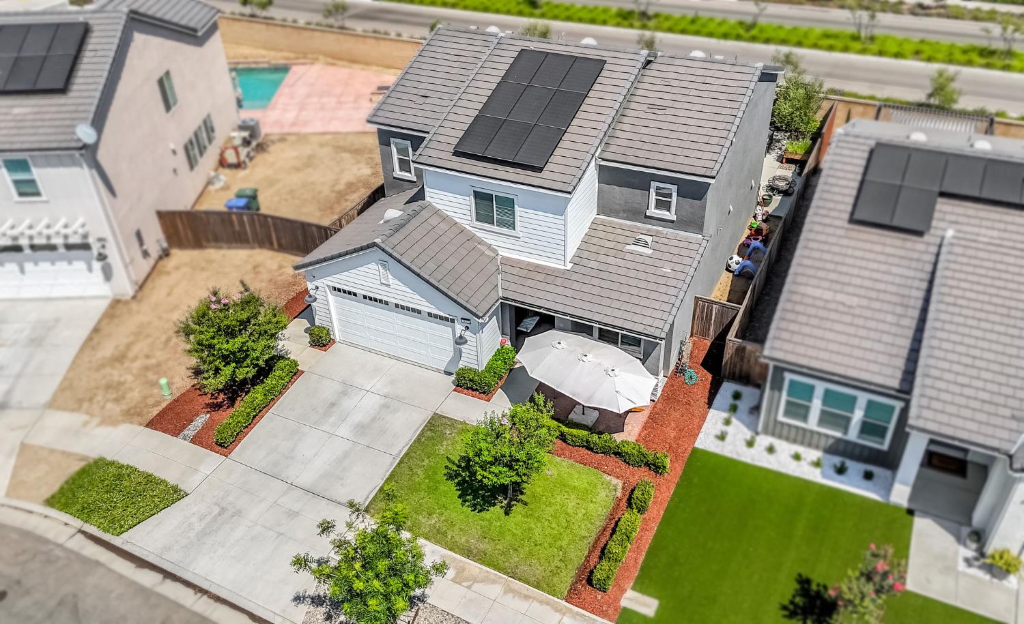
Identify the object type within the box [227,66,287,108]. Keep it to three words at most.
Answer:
swimming pool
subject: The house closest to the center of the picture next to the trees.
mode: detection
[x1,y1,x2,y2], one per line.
[291,23,786,404]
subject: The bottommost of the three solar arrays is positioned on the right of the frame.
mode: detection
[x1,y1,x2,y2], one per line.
[851,144,1024,235]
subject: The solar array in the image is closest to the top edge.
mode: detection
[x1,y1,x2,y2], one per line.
[0,20,87,92]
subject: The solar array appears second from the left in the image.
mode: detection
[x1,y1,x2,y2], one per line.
[455,50,605,170]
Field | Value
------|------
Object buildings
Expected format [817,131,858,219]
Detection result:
[757,113,1024,553]
[0,0,240,302]
[291,23,786,404]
